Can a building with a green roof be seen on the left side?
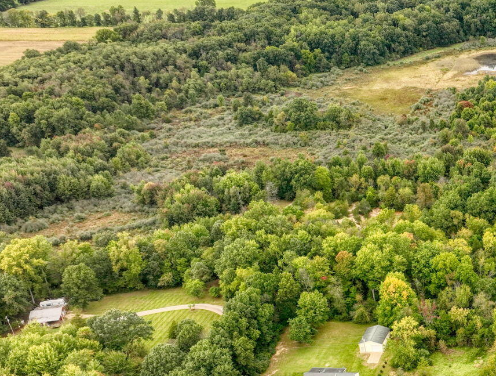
No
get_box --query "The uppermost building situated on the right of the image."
[358,321,387,354]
